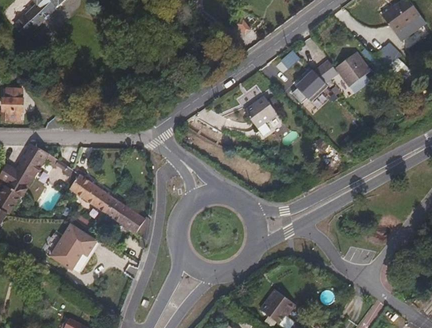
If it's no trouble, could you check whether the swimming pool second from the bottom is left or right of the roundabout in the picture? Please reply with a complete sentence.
Compared with the roundabout, the swimming pool second from the bottom is located further to the left.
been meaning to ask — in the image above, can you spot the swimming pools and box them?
[282,131,300,144]
[40,188,60,210]
[320,288,336,304]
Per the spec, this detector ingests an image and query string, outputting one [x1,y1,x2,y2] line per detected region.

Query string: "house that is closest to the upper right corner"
[382,0,428,48]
